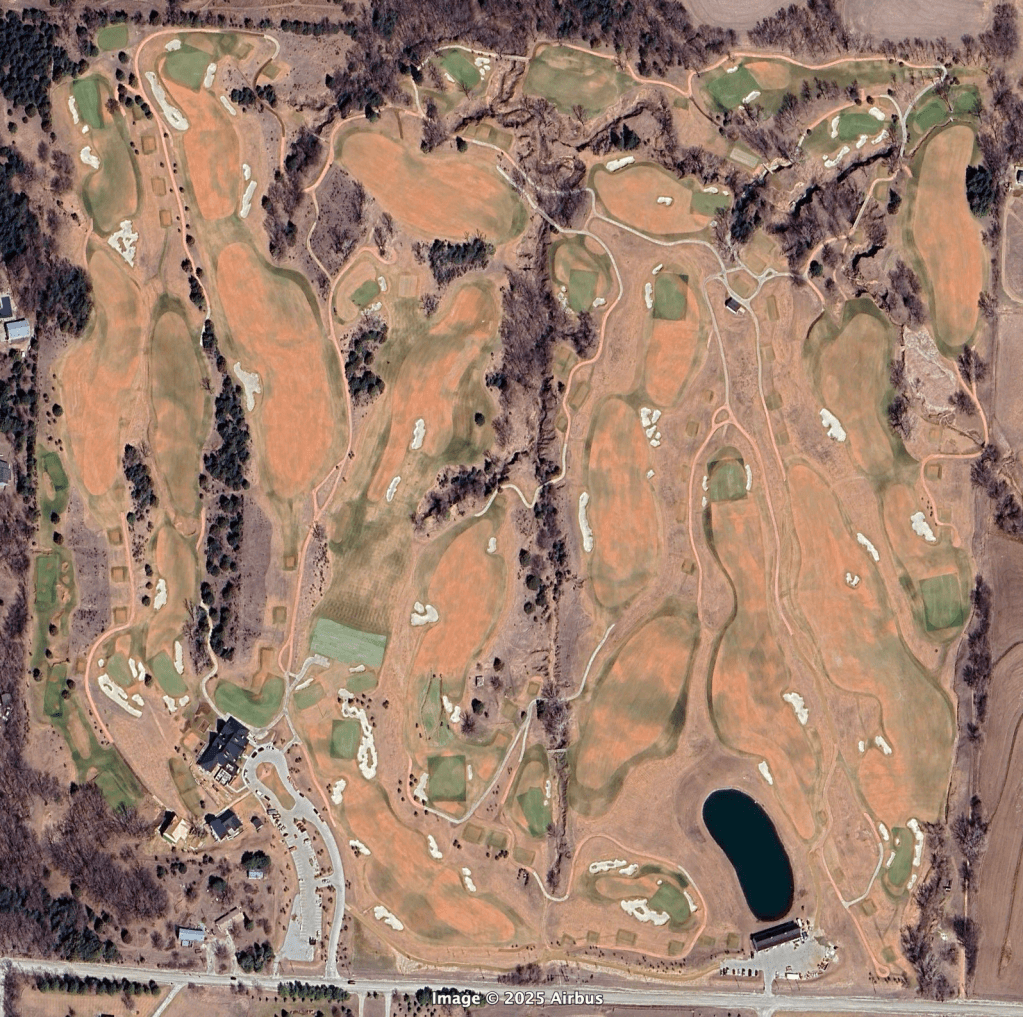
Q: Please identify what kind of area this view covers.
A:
golf course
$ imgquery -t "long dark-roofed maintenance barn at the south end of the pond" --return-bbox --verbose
[752,922,803,952]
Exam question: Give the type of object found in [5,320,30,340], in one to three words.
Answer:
shed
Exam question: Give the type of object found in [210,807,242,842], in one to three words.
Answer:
house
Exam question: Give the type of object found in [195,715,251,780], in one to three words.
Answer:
building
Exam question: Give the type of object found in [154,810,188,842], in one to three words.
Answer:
house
